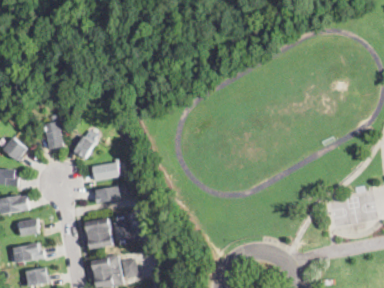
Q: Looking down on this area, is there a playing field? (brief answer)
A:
Yes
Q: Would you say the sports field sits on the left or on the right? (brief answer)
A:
right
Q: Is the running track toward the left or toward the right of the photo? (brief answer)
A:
right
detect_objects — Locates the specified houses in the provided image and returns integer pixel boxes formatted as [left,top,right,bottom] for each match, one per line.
[47,122,65,150]
[0,193,32,214]
[12,242,48,262]
[90,251,128,288]
[74,127,102,159]
[16,217,41,236]
[0,166,21,187]
[96,184,123,204]
[84,217,116,250]
[24,264,52,287]
[3,136,30,162]
[92,161,120,182]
